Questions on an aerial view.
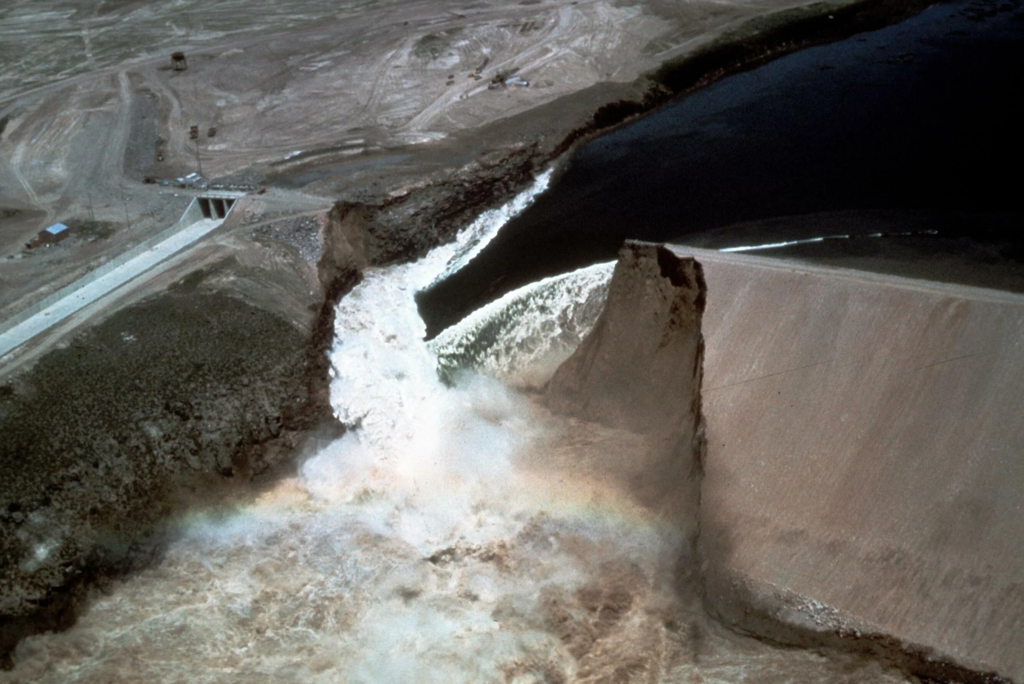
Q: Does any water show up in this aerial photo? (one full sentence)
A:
Yes, there is water in the image.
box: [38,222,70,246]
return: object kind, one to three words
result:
shed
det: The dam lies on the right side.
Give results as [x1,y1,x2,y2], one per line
[546,235,1024,683]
